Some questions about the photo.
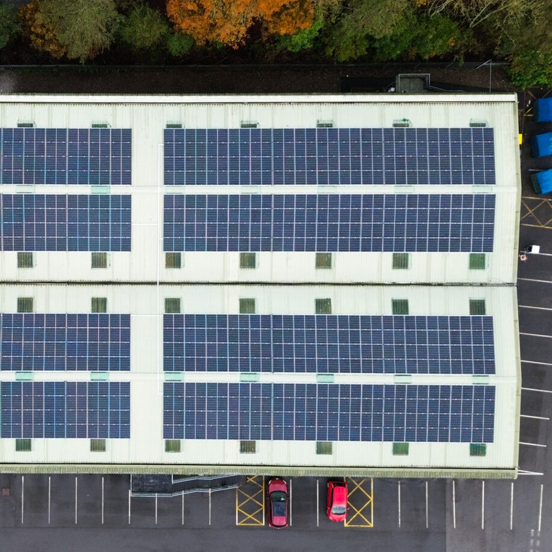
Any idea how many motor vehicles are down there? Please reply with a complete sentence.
The count of motor vehicles comes to 2.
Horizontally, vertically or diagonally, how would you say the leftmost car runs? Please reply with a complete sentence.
The leftmost car is laid out vertically.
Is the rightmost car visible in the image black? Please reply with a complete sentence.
No, from above the rightmost car looks red.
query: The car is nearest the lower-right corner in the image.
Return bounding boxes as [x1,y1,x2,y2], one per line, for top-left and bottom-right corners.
[324,478,349,521]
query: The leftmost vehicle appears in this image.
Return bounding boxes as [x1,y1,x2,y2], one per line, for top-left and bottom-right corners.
[265,476,291,529]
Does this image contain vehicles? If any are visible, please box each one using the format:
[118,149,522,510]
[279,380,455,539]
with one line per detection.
[265,476,291,529]
[324,478,349,521]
